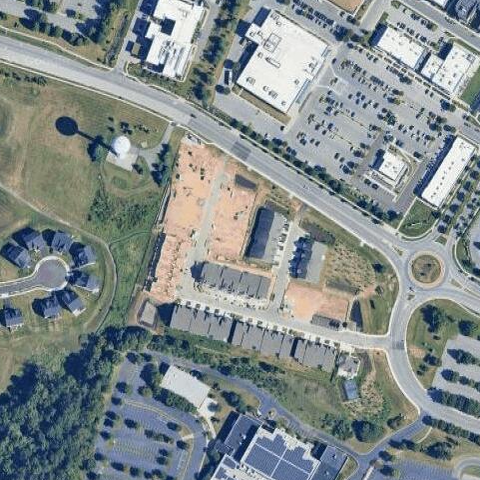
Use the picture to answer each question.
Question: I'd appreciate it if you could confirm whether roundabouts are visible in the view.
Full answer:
Yes, looking at the shot, I can spot a roundabout.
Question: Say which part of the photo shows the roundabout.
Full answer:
Look in the right portion of the view to spot the roundabout.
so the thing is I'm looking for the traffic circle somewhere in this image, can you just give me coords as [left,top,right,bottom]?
[396,238,459,300]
